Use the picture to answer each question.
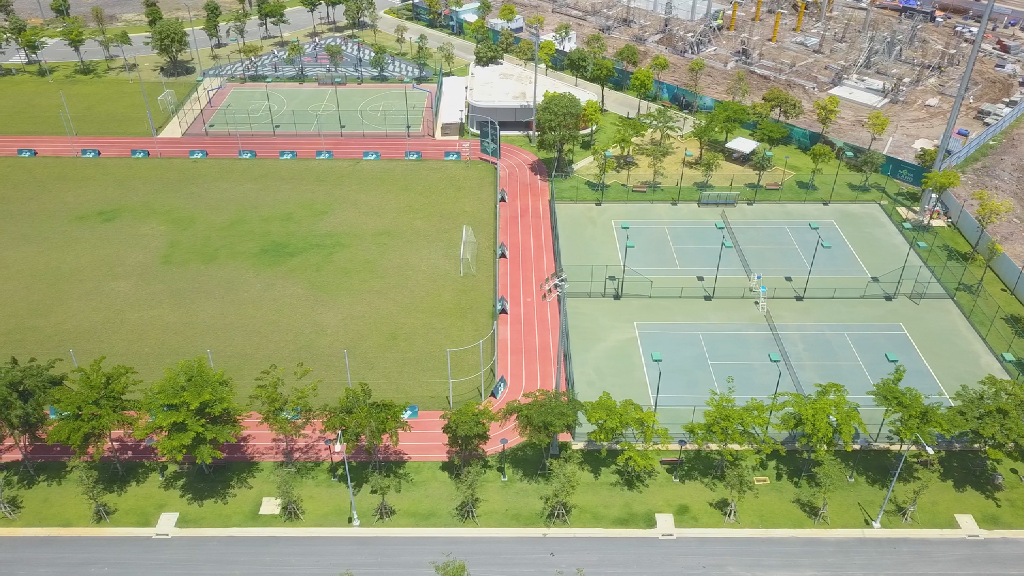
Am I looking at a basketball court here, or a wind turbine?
basketball court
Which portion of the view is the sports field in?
left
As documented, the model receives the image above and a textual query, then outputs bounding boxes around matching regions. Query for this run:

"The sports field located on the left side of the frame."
[0,157,497,410]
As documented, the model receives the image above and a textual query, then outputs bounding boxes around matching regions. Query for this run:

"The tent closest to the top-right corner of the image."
[717,135,763,174]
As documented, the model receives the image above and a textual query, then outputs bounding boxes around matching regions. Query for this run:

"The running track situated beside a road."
[0,136,568,461]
